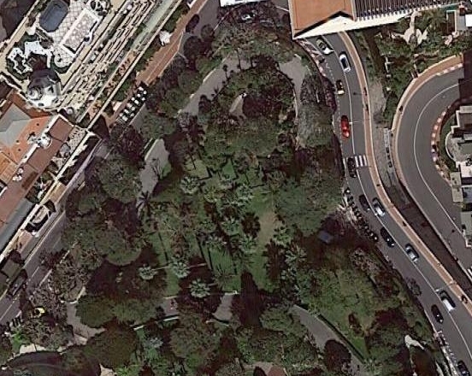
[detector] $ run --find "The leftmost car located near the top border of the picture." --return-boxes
[188,11,201,26]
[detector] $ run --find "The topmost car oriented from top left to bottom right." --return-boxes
[317,37,332,55]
